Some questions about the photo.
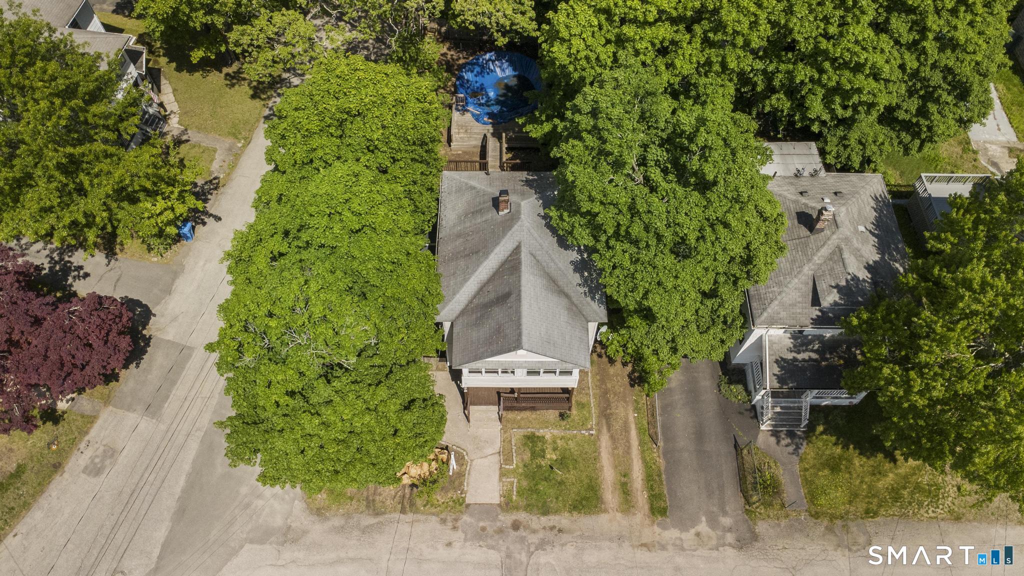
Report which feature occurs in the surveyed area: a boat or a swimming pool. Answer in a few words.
swimming pool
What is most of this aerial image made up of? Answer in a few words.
trees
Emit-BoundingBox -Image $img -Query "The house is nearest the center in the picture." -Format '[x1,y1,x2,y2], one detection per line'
[434,160,609,435]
